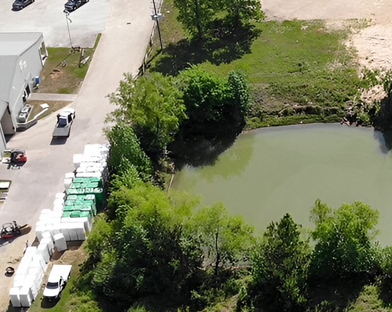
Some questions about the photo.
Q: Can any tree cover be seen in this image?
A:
Yes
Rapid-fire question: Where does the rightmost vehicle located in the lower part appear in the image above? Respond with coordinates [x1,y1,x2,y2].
[43,256,72,293]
